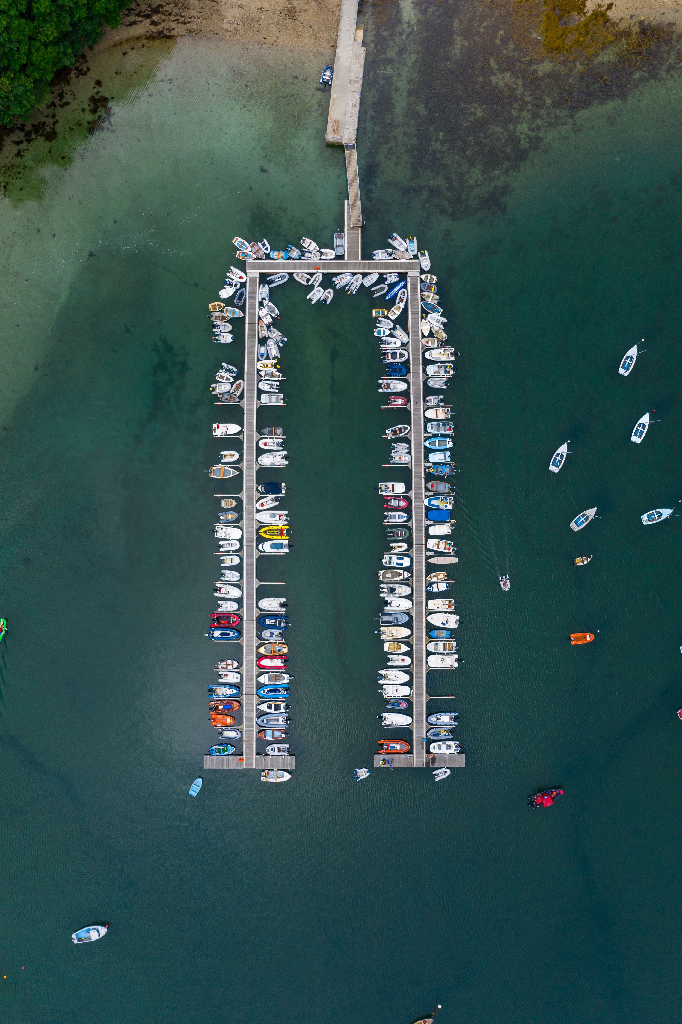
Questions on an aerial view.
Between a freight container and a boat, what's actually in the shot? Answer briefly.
boat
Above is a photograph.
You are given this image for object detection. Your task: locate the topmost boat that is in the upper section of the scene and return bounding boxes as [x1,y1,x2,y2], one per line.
[320,64,333,86]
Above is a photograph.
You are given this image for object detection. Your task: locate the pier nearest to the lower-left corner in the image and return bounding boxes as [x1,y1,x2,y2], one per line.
[204,755,243,769]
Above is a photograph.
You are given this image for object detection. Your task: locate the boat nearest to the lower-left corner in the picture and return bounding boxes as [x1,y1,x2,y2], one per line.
[69,927,107,944]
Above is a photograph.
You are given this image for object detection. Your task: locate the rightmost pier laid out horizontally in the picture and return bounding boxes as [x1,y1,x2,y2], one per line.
[426,753,465,767]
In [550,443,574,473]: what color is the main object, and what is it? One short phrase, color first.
white boat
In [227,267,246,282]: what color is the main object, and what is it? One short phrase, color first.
white boat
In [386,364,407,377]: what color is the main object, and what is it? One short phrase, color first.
blue boat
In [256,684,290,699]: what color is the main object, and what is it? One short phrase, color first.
blue boat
